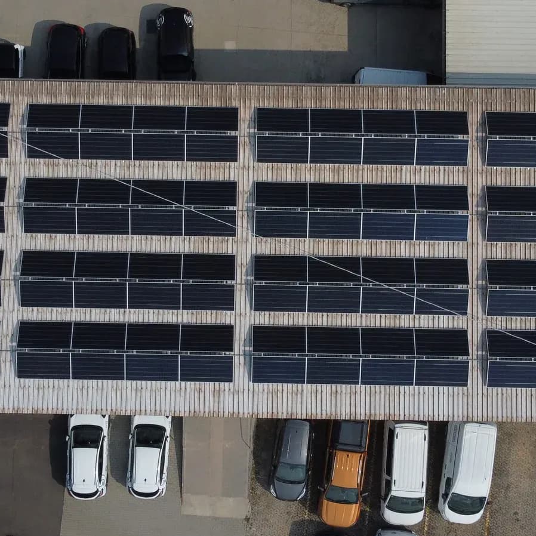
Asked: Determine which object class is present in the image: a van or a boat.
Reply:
van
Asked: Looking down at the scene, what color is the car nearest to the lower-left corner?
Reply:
white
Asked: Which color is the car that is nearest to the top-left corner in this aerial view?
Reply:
black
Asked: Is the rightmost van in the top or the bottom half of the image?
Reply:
bottom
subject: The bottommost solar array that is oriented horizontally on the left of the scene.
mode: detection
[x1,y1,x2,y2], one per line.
[15,322,234,387]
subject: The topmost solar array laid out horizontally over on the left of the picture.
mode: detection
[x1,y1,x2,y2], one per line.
[24,104,239,165]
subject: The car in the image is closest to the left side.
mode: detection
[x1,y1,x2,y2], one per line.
[0,44,31,78]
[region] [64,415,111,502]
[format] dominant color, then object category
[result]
white car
